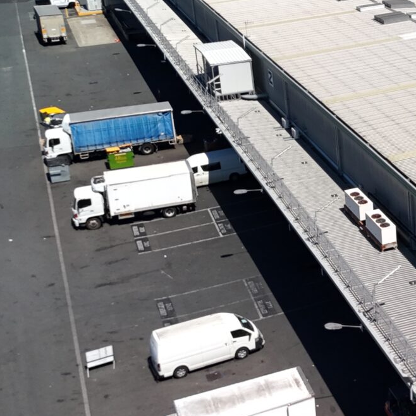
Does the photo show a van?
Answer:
Yes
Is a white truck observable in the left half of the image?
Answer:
Yes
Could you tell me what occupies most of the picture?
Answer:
paved ground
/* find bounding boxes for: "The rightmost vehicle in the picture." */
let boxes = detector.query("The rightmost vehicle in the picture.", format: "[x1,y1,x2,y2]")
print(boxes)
[367,366,415,416]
